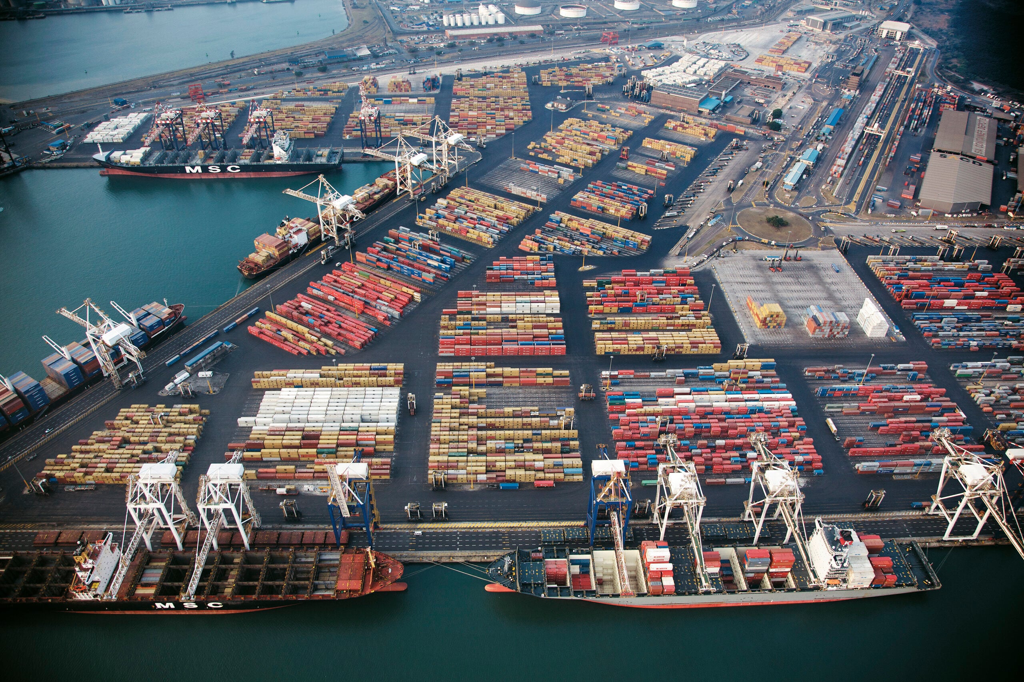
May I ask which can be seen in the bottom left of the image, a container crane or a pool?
container crane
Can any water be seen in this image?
Yes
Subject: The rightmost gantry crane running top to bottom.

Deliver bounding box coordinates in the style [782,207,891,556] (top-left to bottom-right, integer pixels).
[987,433,1024,532]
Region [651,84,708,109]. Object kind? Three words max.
building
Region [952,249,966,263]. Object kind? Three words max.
work vehicle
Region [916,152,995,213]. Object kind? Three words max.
shed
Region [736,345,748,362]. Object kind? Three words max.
vehicle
